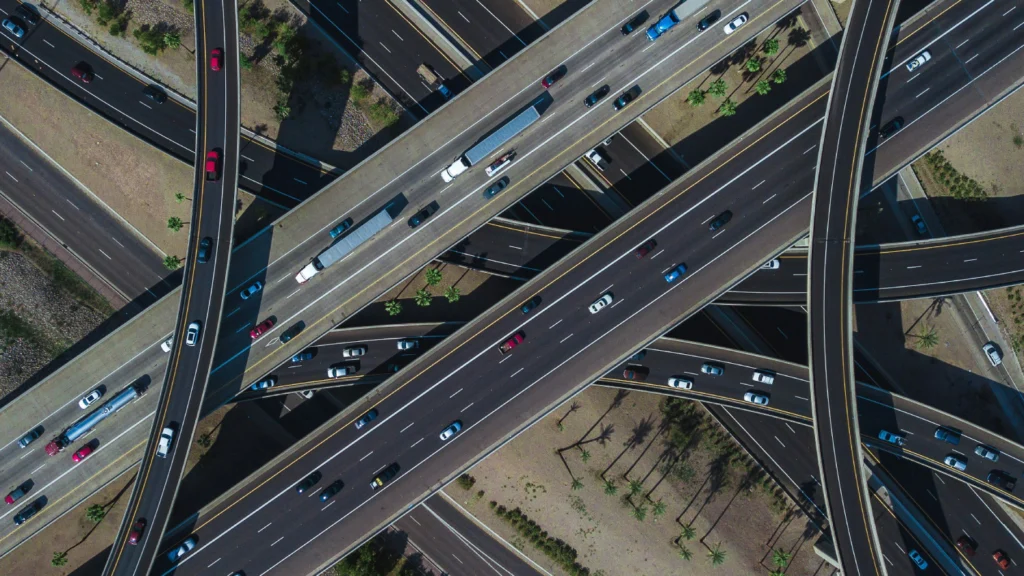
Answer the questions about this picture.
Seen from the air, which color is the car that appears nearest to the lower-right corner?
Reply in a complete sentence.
In this view, the car that appears nearest to the lower-right corner is red.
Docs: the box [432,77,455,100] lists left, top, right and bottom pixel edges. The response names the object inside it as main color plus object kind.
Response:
blue truck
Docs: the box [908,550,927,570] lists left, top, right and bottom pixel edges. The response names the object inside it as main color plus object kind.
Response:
blue car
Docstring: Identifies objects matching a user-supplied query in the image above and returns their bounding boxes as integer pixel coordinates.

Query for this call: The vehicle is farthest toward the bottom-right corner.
[991,550,1011,571]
